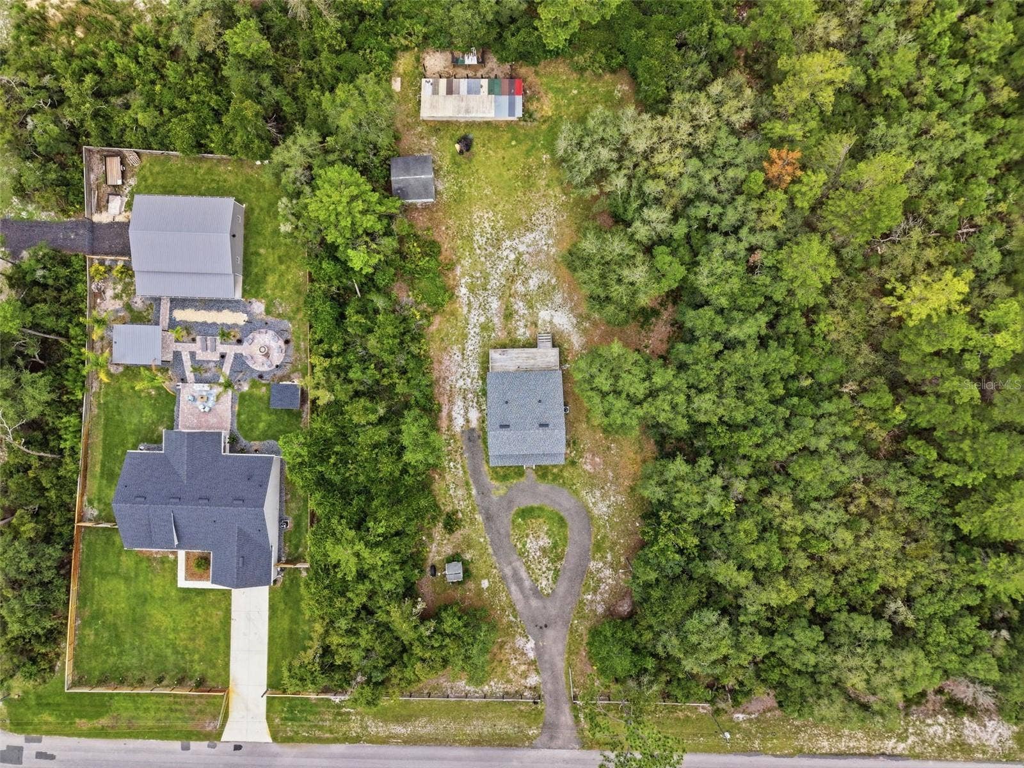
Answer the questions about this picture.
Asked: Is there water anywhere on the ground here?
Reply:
No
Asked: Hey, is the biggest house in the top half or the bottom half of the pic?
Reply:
bottom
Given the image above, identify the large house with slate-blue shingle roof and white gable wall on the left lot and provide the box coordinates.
[112,429,279,589]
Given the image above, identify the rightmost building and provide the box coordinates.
[488,333,566,470]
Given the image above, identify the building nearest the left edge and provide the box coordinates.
[108,325,168,366]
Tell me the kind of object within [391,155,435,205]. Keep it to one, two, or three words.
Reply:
shed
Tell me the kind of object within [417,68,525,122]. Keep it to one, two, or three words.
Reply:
barn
